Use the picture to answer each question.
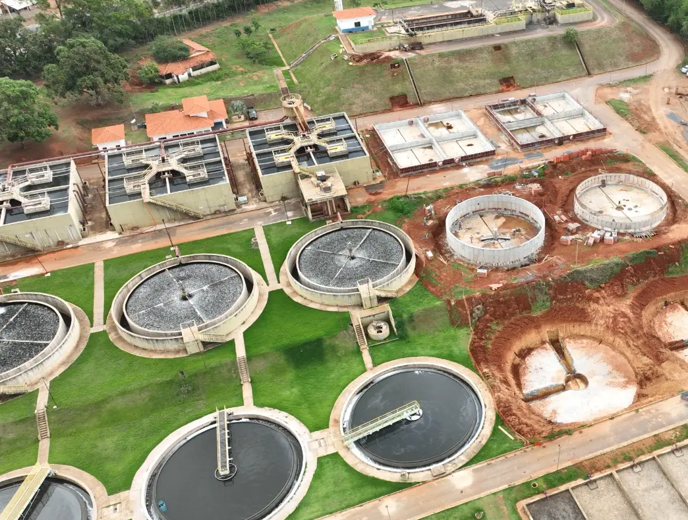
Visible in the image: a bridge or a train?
bridge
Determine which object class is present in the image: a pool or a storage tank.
storage tank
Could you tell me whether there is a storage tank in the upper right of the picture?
Yes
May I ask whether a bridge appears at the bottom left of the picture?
Yes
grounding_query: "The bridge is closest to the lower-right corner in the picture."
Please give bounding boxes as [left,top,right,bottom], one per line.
[338,404,416,455]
